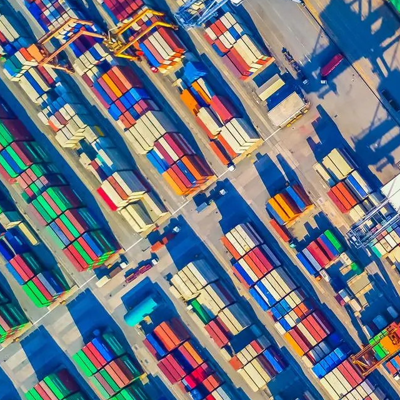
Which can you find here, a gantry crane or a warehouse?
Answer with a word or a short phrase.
gantry crane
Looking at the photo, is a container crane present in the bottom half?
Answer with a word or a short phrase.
Yes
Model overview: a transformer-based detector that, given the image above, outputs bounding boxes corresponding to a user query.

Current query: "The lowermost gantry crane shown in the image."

[351,319,400,375]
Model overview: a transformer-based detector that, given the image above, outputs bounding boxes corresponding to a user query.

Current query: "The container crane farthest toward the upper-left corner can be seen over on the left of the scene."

[25,13,109,72]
